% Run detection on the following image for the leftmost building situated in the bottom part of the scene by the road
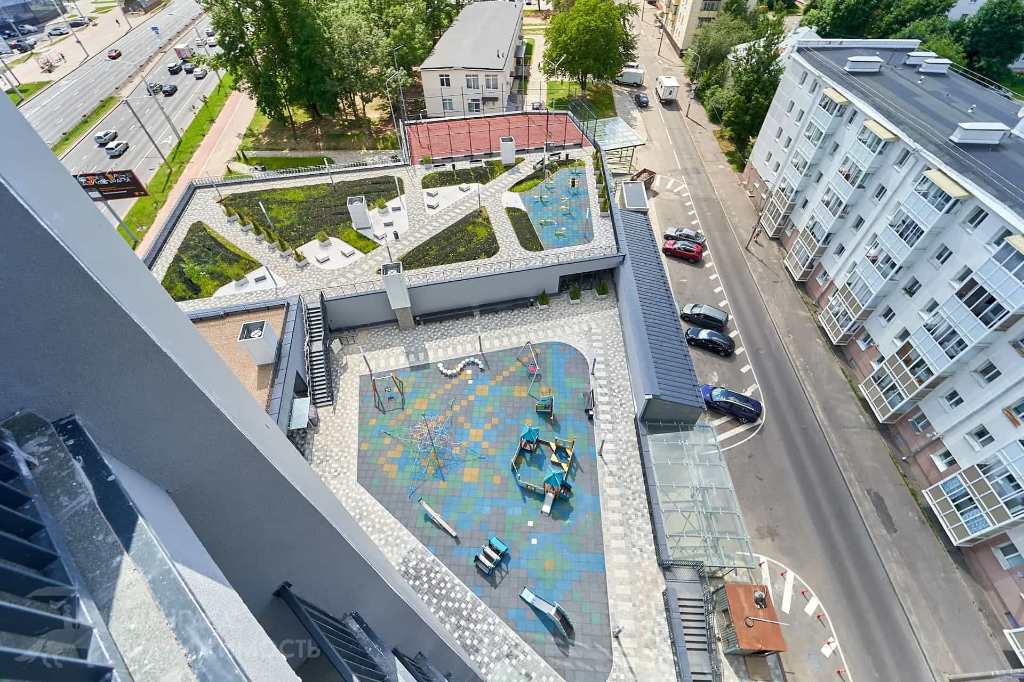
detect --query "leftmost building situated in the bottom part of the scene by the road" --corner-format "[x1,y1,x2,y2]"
[0,170,480,682]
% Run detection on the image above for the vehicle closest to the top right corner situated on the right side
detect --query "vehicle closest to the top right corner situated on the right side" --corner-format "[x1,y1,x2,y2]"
[660,75,678,100]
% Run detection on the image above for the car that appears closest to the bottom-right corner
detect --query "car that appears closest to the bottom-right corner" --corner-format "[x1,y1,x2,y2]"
[701,384,765,424]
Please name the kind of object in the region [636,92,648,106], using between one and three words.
vehicle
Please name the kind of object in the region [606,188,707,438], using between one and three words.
shed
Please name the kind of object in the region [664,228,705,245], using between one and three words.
car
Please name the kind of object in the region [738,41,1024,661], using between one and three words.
building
